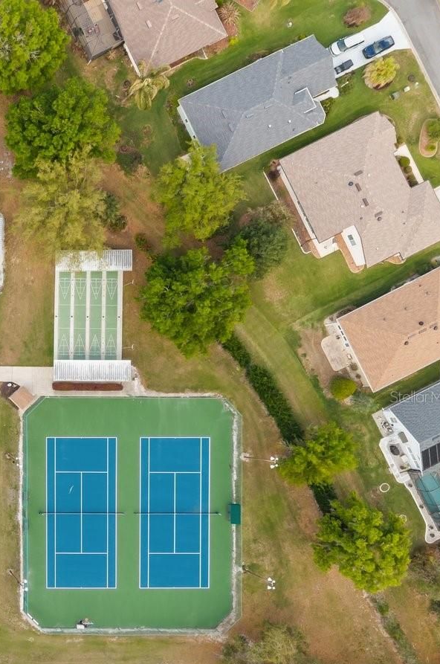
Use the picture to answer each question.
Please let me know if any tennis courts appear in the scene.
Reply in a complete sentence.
Yes, the photo shows a tennis court.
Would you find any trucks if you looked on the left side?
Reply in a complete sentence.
No, I see no truck on the left side.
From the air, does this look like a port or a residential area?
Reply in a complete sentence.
What you see here is a residential area.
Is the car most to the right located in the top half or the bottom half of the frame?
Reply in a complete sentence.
You can find the car most to the right in the top half.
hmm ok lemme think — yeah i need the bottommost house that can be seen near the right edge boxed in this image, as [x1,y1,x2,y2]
[372,378,440,471]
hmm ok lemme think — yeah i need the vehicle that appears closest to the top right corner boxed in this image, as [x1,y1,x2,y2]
[361,36,395,59]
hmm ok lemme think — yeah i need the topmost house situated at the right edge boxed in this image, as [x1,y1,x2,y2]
[273,112,440,269]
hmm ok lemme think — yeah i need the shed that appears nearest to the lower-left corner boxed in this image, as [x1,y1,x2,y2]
[7,386,36,410]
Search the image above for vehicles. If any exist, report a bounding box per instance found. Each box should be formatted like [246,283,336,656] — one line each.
[329,31,366,57]
[361,36,395,59]
[336,59,353,76]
